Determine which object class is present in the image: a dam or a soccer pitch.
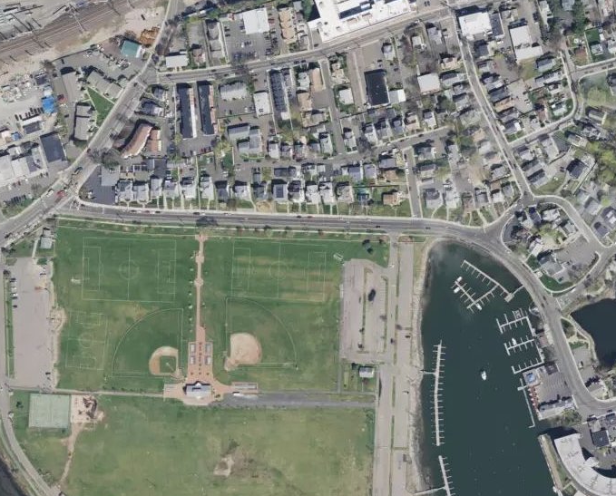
soccer pitch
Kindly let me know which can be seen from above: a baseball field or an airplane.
baseball field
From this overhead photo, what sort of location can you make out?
residential area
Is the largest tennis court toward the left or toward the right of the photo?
left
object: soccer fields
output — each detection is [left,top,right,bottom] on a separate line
[232,240,327,303]
[81,236,176,305]
[65,311,105,371]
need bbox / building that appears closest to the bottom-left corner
[186,383,211,397]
